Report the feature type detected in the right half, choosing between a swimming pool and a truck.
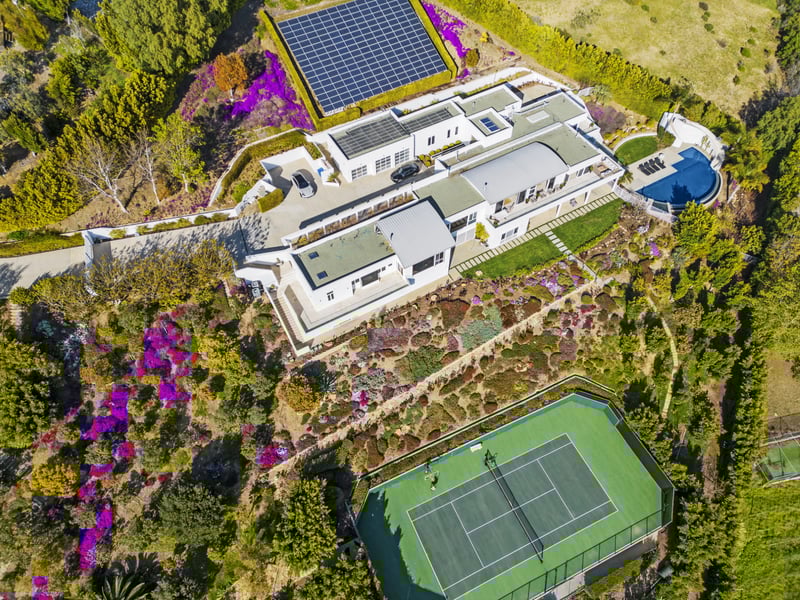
swimming pool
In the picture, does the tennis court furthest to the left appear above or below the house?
below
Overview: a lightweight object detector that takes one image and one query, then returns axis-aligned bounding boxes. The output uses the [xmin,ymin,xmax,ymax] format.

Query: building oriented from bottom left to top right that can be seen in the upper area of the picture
[232,83,623,358]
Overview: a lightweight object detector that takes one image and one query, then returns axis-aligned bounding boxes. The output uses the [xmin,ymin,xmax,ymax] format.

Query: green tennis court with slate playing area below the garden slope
[357,395,660,600]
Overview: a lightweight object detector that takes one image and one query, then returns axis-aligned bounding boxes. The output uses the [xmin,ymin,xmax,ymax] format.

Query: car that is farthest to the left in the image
[291,172,314,199]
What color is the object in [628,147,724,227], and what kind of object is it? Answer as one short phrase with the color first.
blue swimming pool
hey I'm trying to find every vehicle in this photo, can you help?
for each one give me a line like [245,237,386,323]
[388,161,423,182]
[291,172,314,199]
